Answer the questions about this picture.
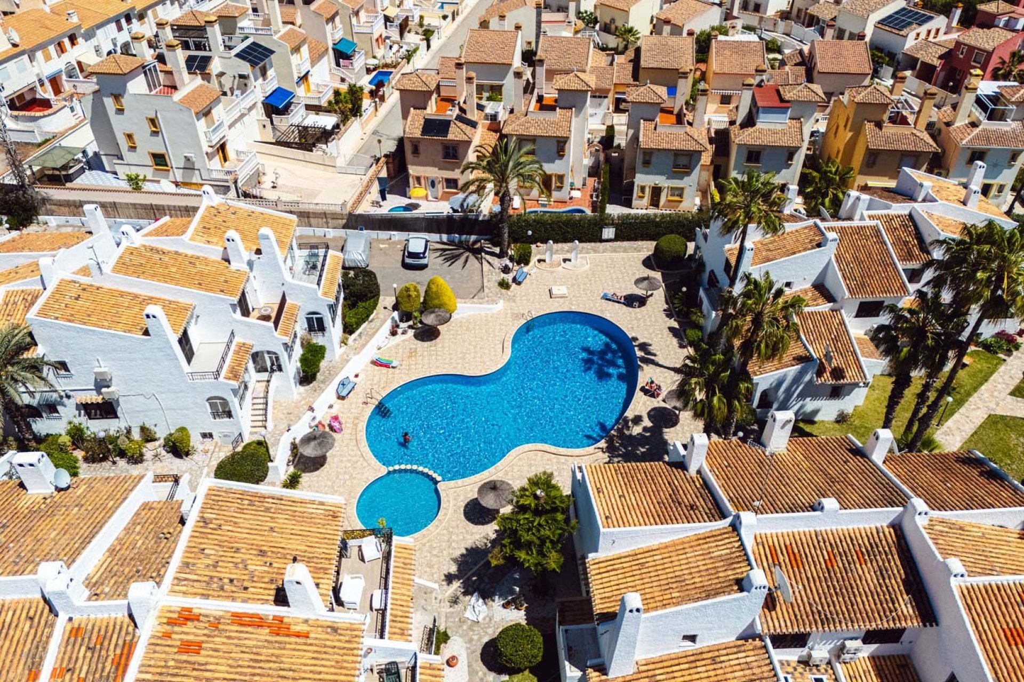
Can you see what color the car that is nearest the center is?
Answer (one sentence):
The car that is nearest the center looks white in the image.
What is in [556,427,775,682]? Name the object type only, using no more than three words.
house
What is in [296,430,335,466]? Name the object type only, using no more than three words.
umbrella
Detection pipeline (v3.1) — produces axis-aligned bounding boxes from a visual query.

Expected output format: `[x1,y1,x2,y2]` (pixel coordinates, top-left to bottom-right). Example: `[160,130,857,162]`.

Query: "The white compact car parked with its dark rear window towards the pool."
[402,233,431,265]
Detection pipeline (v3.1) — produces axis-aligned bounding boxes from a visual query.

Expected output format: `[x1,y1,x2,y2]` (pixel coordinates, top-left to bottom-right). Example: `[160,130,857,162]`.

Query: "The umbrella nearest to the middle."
[421,309,452,339]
